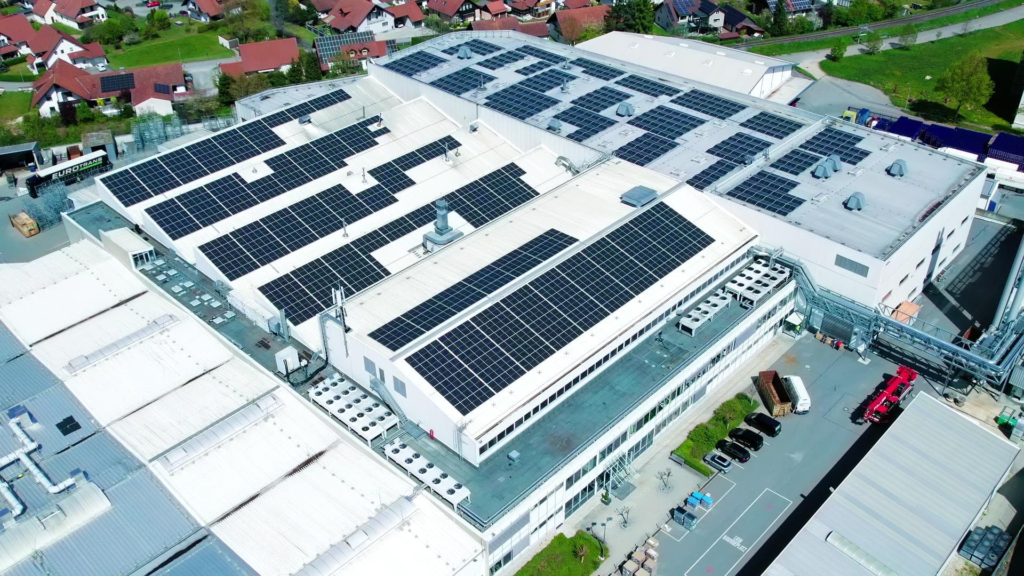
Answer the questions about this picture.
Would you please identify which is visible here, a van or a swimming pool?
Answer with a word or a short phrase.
van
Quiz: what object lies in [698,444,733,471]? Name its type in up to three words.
car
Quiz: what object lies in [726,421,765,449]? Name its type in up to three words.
car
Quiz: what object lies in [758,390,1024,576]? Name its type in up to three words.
warehouse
